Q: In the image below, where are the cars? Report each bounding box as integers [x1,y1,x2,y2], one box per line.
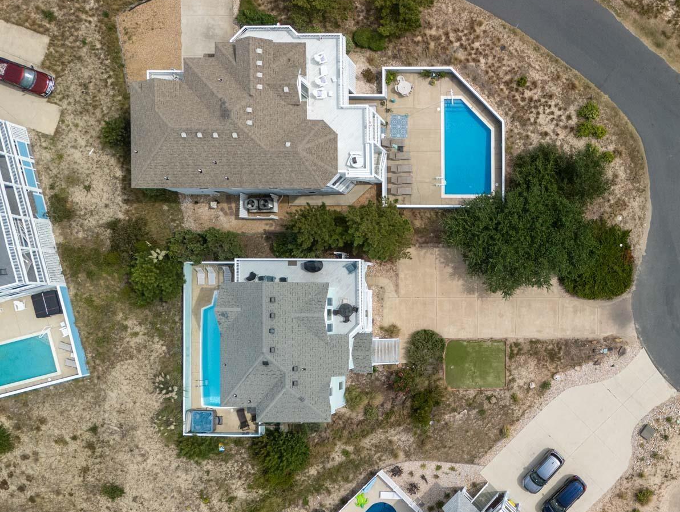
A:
[540,470,590,512]
[0,59,60,97]
[521,445,566,495]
